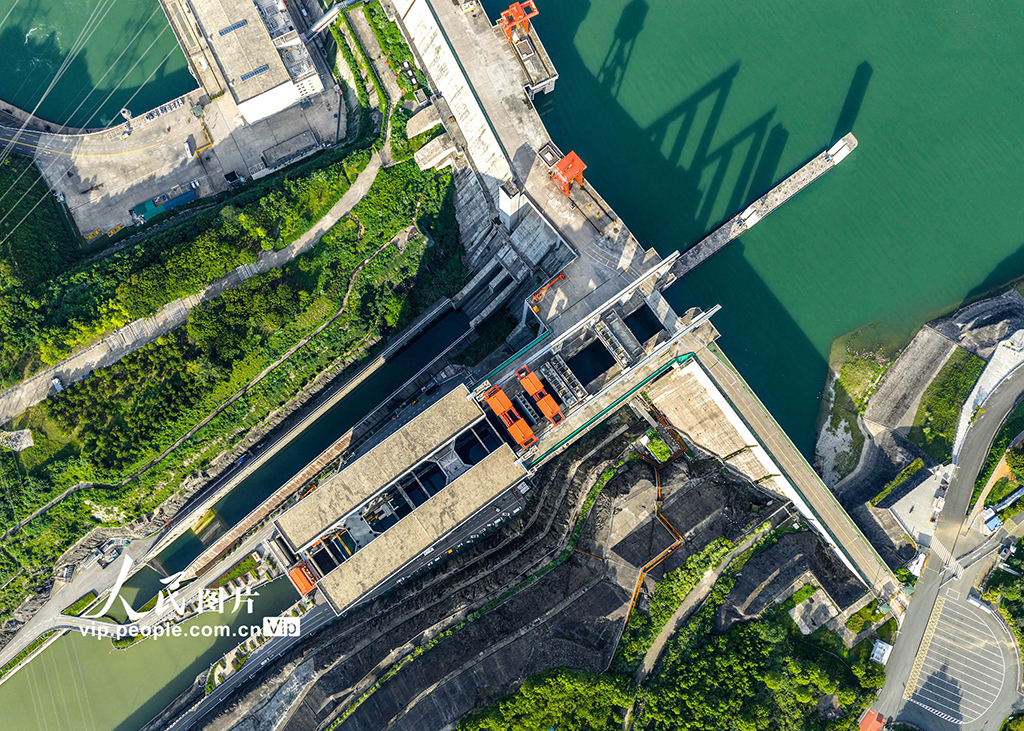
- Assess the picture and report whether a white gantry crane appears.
No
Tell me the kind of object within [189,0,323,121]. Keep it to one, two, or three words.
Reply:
building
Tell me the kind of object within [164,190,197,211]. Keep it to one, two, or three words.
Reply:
shed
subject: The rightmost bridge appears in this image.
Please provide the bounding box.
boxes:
[643,288,690,335]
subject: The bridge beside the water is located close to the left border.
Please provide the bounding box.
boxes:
[0,603,166,675]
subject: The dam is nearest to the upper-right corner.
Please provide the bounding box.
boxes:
[385,0,901,587]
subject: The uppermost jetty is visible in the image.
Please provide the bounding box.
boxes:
[810,133,857,181]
